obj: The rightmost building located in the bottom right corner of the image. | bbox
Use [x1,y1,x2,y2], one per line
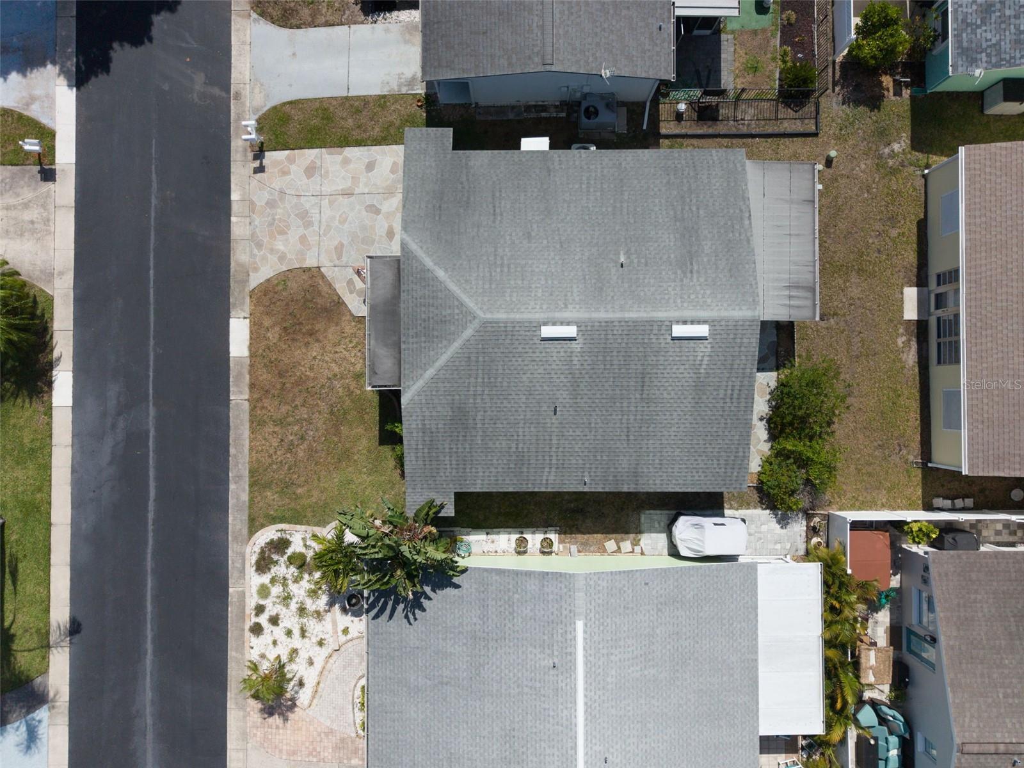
[900,542,1024,768]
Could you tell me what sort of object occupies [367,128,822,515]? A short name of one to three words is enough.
house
